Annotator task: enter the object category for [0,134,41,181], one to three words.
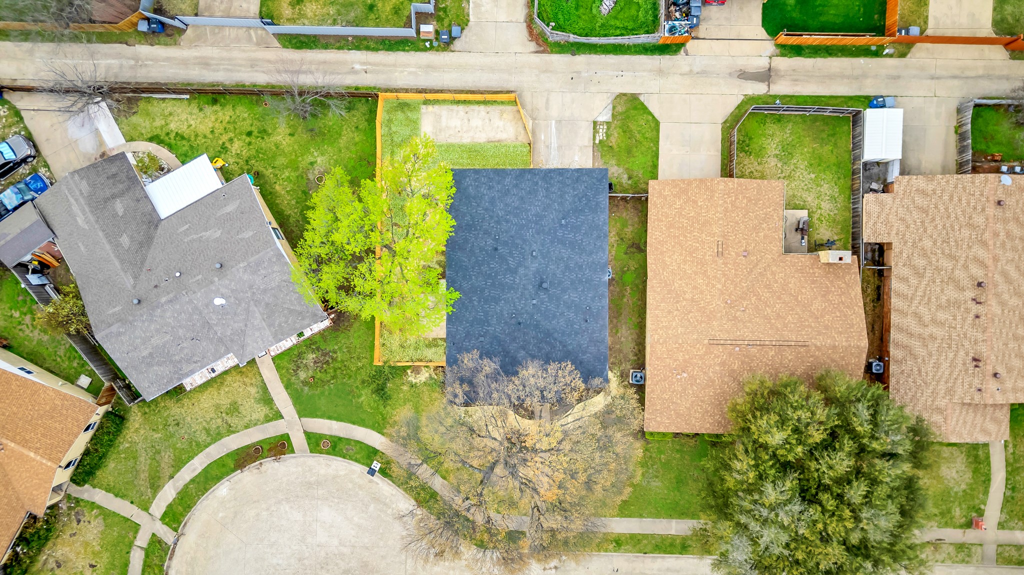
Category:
car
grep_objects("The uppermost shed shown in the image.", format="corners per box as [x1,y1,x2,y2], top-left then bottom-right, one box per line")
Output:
[851,108,904,164]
